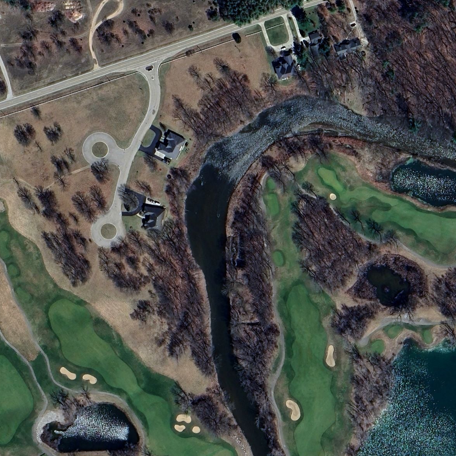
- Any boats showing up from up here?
No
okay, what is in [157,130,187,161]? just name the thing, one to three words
house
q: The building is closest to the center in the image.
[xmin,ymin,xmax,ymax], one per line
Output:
[143,205,165,231]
